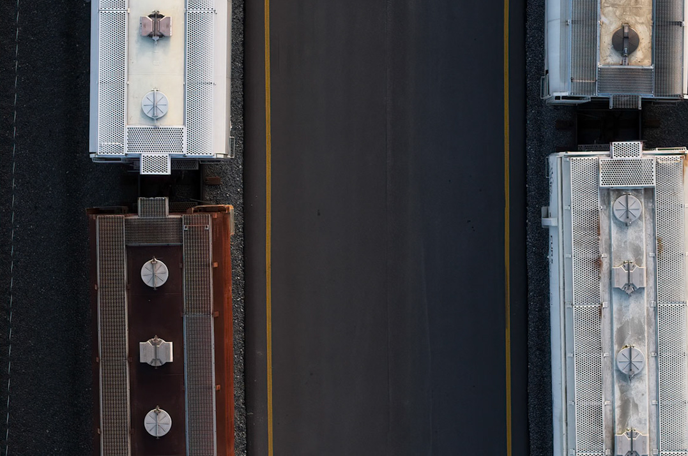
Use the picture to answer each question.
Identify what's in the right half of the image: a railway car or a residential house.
railway car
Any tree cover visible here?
No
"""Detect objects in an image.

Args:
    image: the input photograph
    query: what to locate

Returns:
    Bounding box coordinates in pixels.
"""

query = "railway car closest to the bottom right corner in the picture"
[539,123,688,456]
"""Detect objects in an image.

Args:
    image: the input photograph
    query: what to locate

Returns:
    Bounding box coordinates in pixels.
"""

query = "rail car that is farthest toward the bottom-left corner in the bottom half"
[84,177,240,456]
